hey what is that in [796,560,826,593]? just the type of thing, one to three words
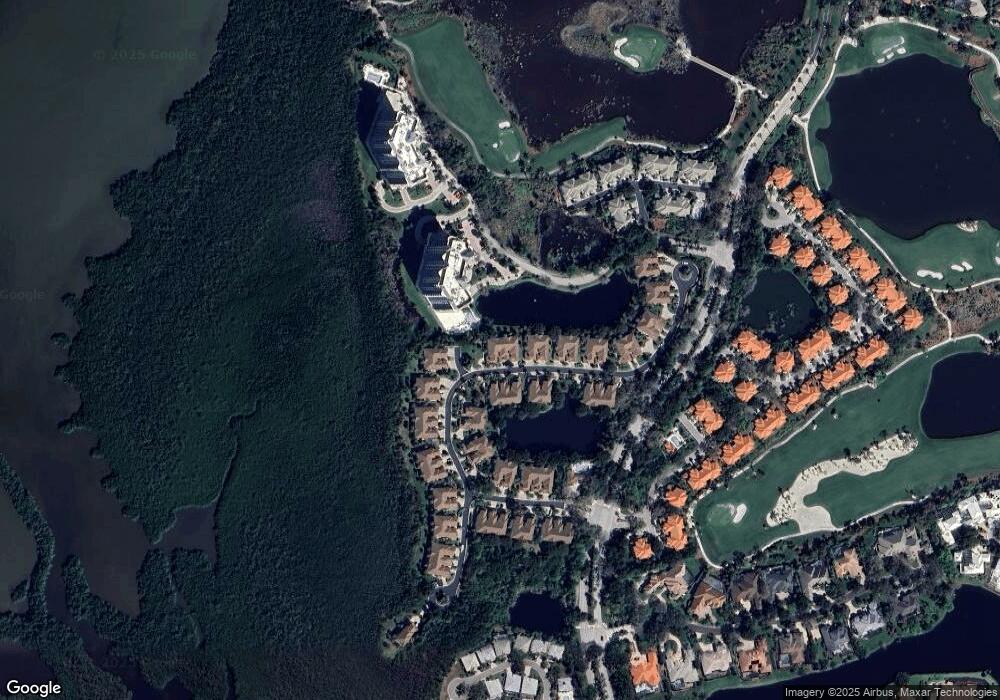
house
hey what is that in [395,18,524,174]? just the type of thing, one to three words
golf course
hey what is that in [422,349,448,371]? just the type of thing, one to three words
house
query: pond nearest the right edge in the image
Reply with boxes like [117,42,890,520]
[920,351,1000,439]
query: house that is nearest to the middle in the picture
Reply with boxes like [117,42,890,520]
[486,336,520,363]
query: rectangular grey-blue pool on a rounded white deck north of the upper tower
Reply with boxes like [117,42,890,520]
[363,63,391,85]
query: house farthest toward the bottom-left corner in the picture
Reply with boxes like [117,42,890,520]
[391,616,419,647]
